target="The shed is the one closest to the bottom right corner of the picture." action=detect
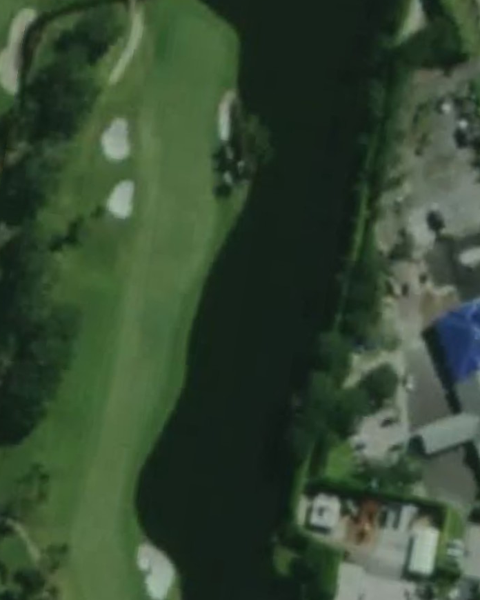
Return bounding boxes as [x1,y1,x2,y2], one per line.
[410,532,440,575]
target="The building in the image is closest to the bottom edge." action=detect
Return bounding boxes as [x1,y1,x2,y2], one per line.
[333,564,362,600]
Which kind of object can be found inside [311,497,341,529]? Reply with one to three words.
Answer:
building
